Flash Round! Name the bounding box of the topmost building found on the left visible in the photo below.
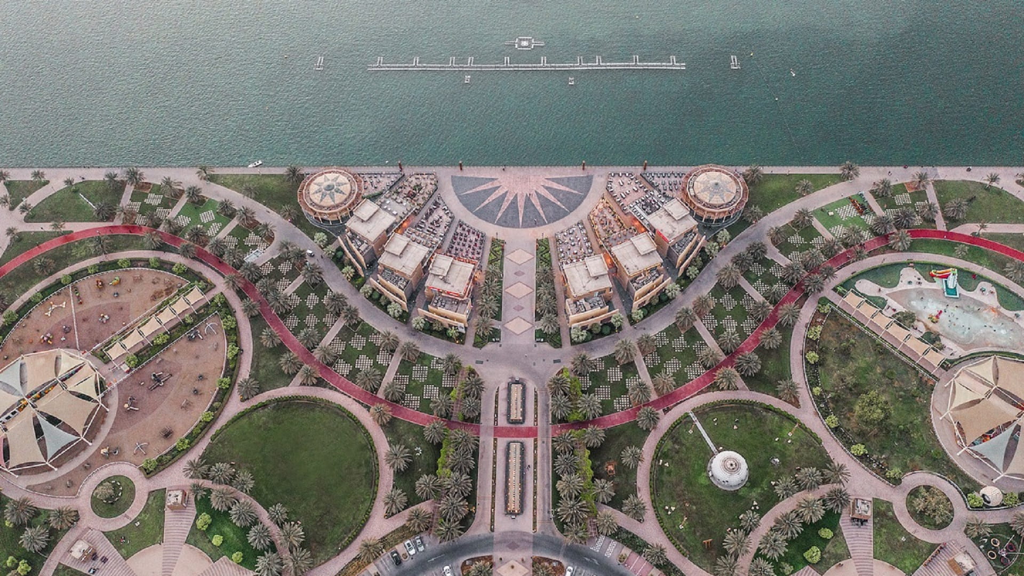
[298,166,365,230]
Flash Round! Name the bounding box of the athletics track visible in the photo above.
[0,224,1024,438]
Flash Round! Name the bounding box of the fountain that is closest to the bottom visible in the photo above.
[504,441,524,513]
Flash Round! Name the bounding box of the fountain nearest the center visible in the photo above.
[507,381,526,423]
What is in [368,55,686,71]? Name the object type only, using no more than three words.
pier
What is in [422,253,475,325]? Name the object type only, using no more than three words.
building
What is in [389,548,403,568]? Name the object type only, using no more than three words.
car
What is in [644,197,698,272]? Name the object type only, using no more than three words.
building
